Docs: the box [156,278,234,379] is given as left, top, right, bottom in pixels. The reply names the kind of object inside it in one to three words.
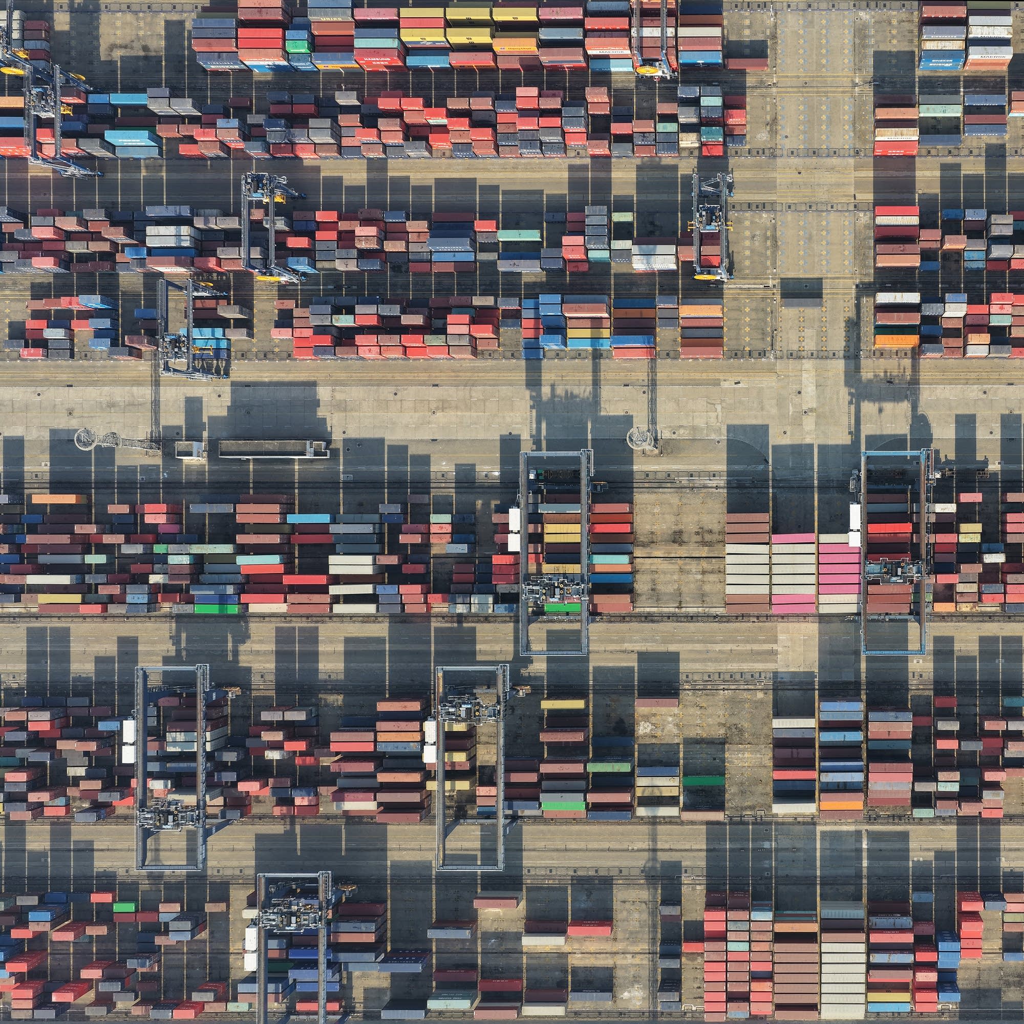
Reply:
container crane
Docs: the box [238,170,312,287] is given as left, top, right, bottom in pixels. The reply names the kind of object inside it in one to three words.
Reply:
container crane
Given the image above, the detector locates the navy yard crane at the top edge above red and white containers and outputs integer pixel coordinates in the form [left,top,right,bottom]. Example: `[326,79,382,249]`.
[630,0,682,83]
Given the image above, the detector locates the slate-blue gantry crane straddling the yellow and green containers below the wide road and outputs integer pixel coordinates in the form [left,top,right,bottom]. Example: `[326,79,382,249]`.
[506,450,612,657]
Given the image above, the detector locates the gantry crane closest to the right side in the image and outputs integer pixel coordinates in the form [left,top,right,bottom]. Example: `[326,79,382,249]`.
[847,449,934,656]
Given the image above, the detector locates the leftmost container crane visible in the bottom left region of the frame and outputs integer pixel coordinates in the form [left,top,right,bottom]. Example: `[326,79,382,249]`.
[122,661,246,872]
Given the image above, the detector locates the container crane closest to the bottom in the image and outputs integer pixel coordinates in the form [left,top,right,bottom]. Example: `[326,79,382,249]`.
[243,862,362,1024]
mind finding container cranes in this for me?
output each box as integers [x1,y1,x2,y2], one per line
[422,661,532,872]
[688,172,739,286]
[122,661,246,872]
[0,0,54,83]
[156,278,234,379]
[847,449,934,656]
[238,170,312,287]
[630,0,682,83]
[22,63,109,176]
[506,450,612,657]
[243,862,362,1024]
